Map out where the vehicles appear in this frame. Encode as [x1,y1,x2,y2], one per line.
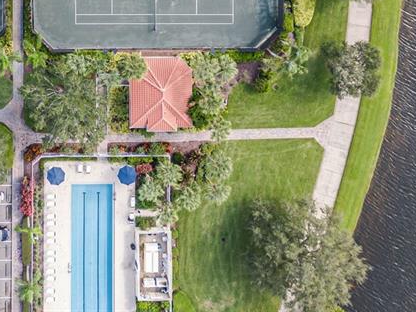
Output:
[0,189,6,203]
[0,226,10,244]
